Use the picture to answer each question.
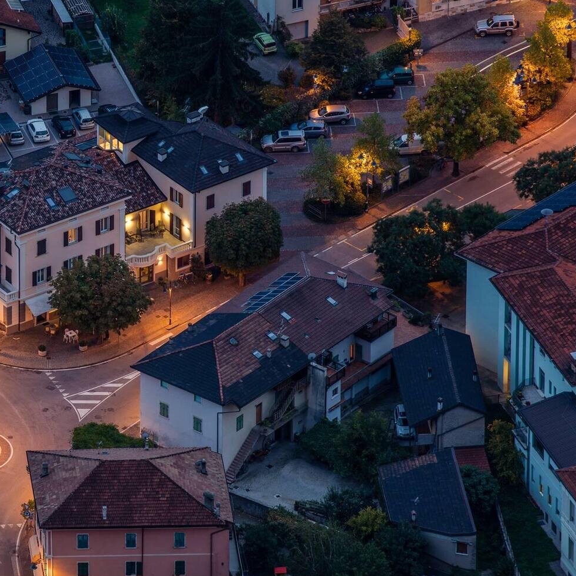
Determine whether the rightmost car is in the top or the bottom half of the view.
top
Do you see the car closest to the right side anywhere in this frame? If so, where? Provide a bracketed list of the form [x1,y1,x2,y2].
[473,10,522,37]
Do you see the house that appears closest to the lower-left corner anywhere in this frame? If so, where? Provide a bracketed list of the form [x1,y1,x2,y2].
[23,446,233,576]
